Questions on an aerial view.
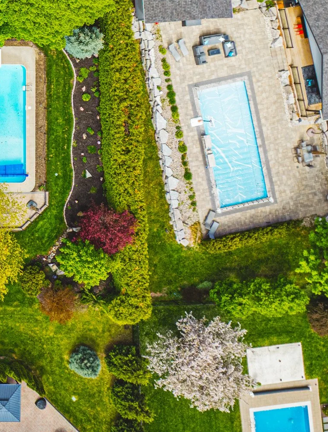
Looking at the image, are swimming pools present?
Yes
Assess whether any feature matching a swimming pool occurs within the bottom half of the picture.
Yes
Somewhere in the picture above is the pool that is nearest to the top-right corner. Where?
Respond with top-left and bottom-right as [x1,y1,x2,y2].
[199,80,268,209]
